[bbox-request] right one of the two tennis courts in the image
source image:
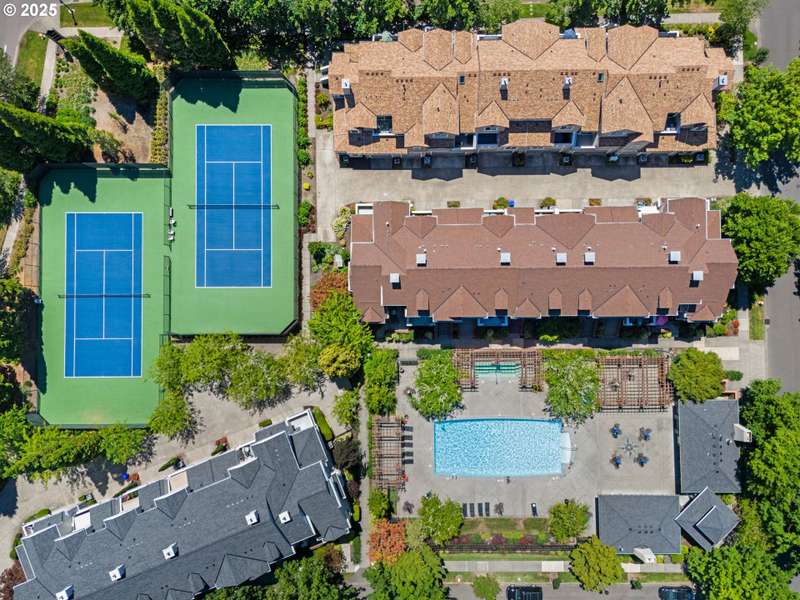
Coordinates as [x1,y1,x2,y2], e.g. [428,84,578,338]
[171,80,293,334]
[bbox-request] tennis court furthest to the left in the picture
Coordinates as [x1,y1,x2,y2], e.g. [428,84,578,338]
[40,170,171,424]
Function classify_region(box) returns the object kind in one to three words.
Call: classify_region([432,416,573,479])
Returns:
swimming pool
